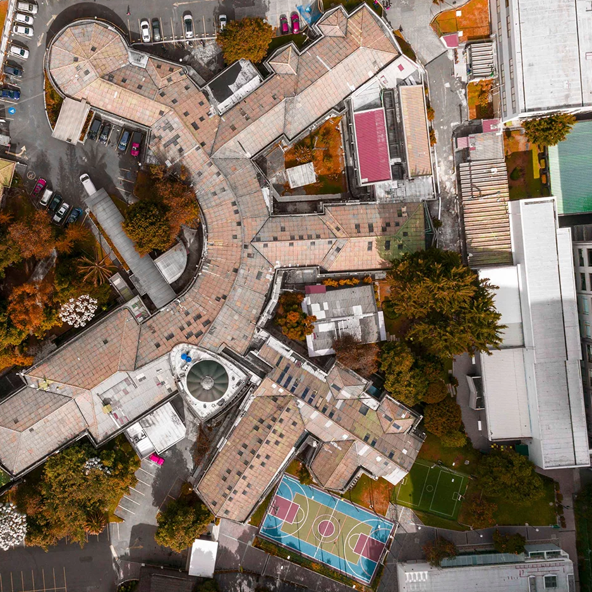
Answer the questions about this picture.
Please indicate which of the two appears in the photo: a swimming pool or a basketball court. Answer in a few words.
basketball court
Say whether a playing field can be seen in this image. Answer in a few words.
Yes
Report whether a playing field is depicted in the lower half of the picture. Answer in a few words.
Yes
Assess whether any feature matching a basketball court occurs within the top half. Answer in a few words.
No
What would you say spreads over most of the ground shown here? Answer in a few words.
buildings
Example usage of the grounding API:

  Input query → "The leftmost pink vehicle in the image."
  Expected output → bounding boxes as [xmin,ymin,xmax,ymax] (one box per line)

[32,176,47,197]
